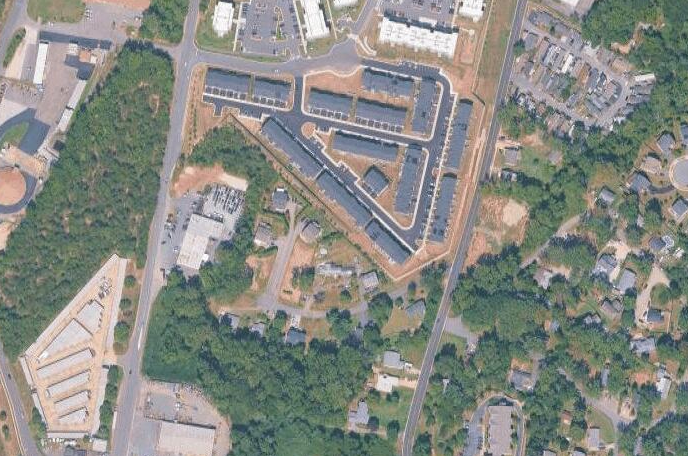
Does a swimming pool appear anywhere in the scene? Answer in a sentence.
No, I find no swimming pool anywhere in the image.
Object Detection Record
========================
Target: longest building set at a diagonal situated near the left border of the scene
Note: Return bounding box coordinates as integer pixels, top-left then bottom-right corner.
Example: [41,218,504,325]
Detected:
[25,255,118,357]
